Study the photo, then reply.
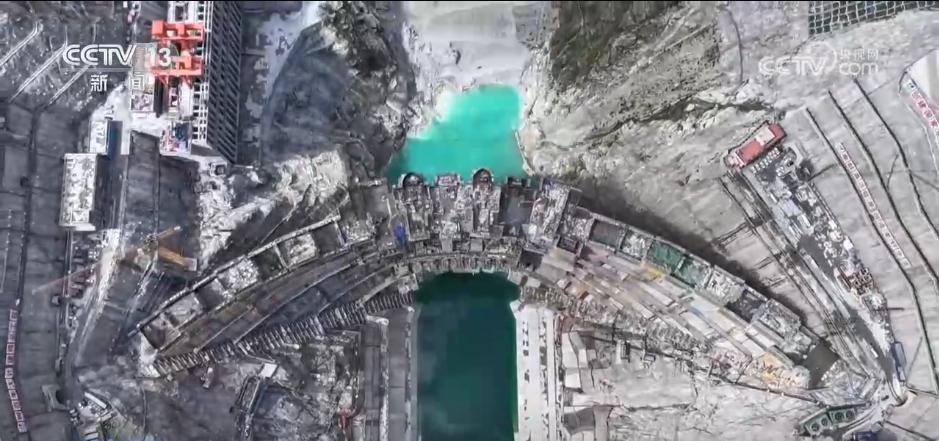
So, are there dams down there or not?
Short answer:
Yes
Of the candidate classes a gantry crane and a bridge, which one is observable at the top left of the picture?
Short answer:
gantry crane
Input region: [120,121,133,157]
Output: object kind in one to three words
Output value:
shed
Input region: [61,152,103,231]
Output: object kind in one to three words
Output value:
building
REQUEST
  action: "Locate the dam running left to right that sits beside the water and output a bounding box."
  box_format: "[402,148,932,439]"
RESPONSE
[139,166,831,391]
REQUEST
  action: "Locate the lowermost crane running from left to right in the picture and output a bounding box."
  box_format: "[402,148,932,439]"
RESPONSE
[32,224,199,292]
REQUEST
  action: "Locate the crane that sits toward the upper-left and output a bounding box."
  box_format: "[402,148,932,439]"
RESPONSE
[151,20,209,80]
